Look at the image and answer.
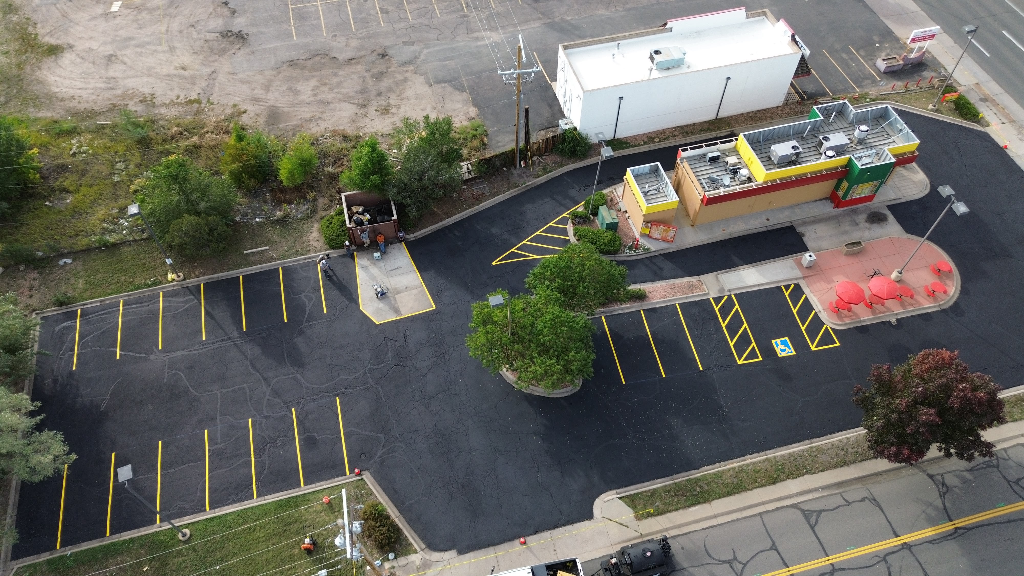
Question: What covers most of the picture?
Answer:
paved ground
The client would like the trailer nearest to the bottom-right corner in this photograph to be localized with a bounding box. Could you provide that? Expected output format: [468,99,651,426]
[582,534,676,576]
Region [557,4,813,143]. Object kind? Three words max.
building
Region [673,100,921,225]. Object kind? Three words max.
building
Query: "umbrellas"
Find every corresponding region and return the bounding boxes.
[868,276,903,303]
[834,282,869,308]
